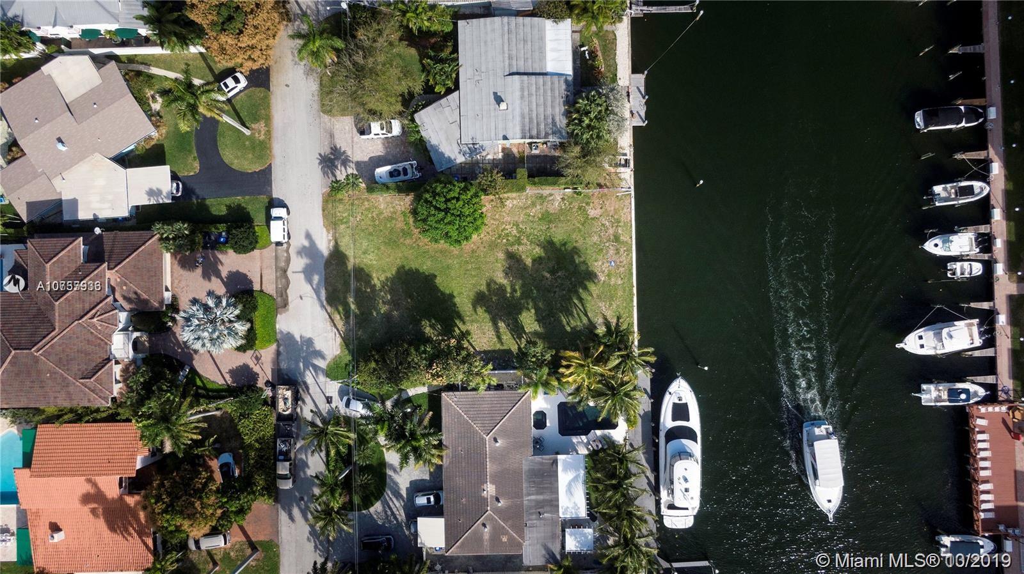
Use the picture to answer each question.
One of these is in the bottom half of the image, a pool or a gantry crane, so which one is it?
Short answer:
pool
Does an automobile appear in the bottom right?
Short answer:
No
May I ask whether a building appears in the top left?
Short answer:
Yes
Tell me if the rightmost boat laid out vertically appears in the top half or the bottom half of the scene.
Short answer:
bottom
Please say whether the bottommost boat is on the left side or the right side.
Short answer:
right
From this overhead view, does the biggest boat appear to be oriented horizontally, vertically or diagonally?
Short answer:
vertically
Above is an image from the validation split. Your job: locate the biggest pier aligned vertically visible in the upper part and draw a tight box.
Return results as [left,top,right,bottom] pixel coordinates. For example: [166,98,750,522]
[633,74,646,125]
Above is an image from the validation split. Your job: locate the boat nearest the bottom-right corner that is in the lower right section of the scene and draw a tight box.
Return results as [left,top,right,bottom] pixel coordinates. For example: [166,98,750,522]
[933,535,998,557]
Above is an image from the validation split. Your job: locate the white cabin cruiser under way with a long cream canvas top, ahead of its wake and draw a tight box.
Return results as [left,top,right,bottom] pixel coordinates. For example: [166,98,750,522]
[801,416,845,522]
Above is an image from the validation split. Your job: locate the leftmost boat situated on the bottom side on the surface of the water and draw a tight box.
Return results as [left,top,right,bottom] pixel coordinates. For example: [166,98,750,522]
[657,375,704,536]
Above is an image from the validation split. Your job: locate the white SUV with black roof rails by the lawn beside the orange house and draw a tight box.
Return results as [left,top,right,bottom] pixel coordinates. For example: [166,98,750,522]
[191,531,230,551]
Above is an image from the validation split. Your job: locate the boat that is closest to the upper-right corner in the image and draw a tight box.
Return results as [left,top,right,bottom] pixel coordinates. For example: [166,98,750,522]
[907,107,985,130]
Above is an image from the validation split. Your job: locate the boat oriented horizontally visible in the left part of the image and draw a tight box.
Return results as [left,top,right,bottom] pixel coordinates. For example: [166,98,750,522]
[372,161,425,182]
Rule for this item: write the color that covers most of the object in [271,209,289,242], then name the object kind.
white car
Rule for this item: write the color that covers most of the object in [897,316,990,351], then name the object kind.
white boat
